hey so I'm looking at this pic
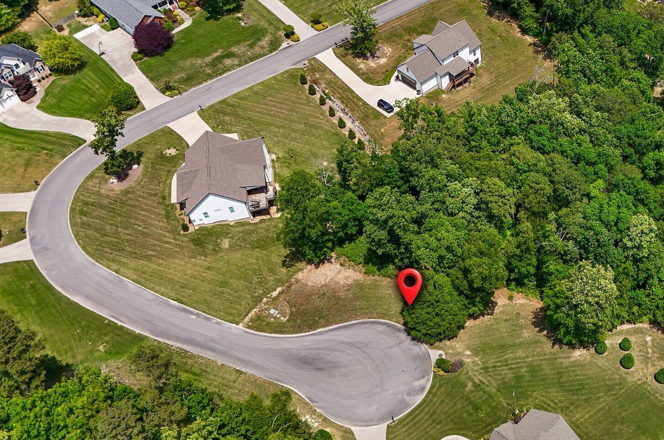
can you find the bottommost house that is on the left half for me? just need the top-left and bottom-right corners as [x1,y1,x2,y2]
[172,129,279,228]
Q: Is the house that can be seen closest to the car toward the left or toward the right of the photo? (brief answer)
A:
right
